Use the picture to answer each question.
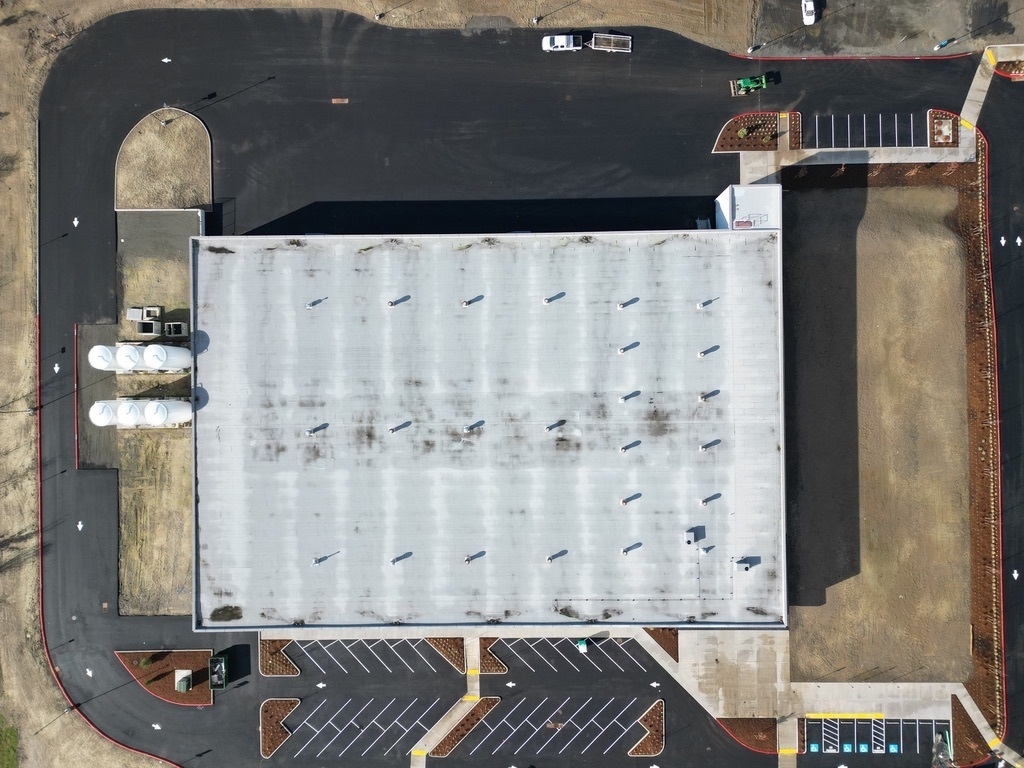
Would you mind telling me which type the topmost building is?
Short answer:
warehouse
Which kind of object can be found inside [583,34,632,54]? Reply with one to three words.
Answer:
trailer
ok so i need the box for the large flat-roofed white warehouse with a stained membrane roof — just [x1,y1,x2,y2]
[191,184,787,632]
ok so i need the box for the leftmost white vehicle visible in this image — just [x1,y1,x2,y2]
[541,34,582,52]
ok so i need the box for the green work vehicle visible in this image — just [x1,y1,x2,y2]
[729,76,767,98]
